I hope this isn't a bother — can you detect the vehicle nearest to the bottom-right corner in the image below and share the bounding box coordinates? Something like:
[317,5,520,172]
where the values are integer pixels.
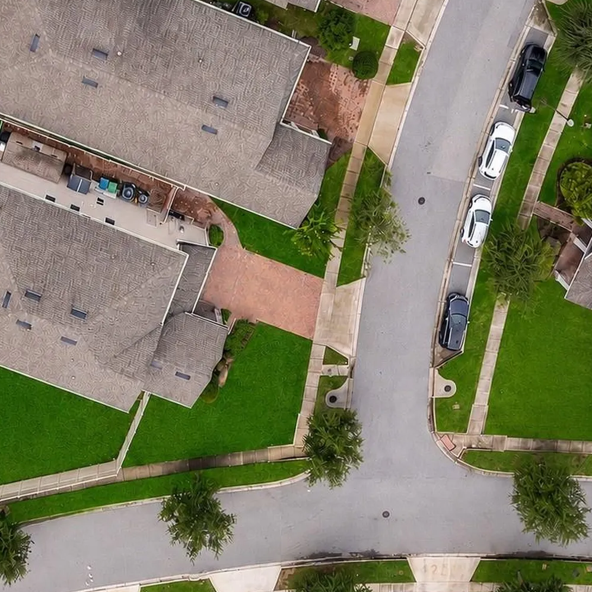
[437,290,474,355]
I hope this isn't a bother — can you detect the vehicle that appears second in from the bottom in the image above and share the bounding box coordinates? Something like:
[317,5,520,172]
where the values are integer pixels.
[460,193,494,249]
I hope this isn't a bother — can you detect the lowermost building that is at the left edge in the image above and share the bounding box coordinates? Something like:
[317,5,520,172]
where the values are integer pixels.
[0,157,228,413]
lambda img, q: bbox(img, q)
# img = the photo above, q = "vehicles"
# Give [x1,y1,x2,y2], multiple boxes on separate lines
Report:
[460,193,494,249]
[437,290,474,355]
[478,120,517,181]
[507,42,551,112]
